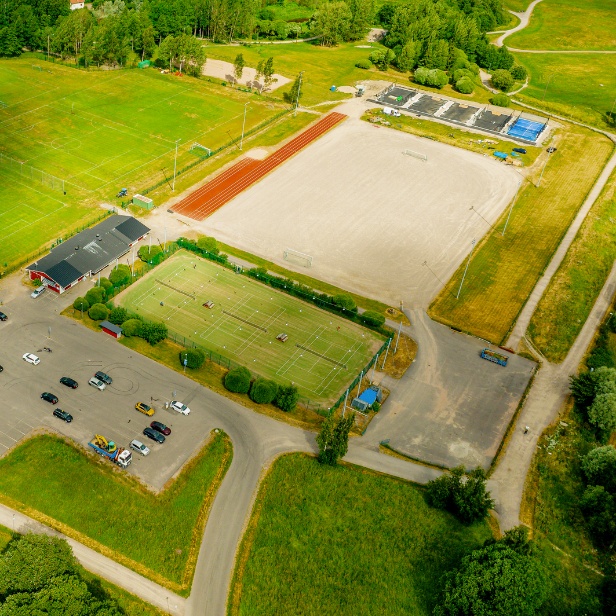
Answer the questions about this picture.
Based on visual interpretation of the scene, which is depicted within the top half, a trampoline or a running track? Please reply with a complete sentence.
You can see a running track within the top half.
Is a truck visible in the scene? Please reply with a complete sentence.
Yes, a truck can be made out from above.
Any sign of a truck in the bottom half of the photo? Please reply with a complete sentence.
Yes, a truck appears in the bottom half of the photo.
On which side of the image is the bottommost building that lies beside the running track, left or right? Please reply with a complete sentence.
You can find the bottommost building that lies beside the running track on the left side of the picture.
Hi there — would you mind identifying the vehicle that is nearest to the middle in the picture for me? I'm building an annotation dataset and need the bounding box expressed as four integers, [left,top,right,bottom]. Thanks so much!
[169,399,191,414]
